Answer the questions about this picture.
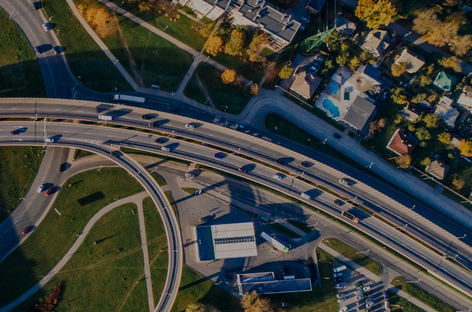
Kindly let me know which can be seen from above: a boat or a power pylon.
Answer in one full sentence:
I can see a power pylon in this picture.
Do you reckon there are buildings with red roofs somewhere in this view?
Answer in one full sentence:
Yes, there is a building with a red roof in the image.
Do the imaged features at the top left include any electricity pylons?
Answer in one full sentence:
No, there's no electricity pylon to be seen at the top left.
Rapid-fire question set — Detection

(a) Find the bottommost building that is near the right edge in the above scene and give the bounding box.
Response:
[424,158,450,180]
